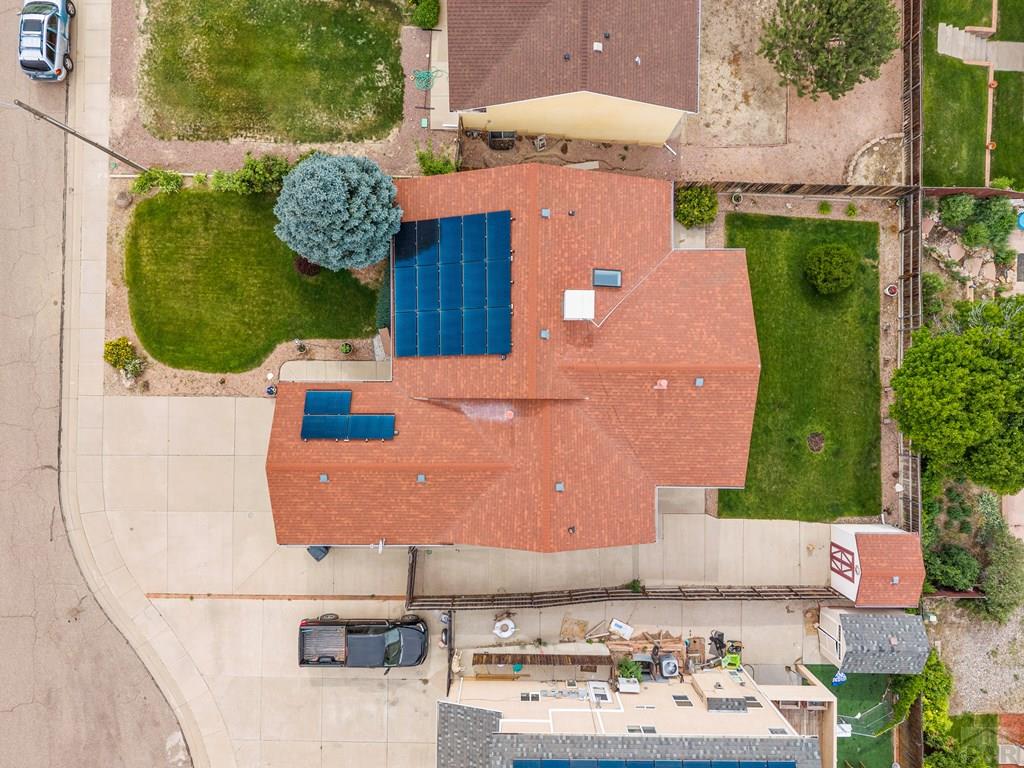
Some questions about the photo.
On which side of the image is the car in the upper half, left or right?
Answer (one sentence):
You can find the car in the upper half on the left side of the picture.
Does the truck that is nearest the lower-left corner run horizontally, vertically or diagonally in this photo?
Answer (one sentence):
In this picture, the truck that is nearest the lower-left corner is oriented horizontally.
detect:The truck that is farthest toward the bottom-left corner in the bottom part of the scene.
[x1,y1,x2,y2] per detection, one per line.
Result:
[297,614,429,675]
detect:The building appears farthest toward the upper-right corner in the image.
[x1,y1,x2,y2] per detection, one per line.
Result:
[446,0,699,155]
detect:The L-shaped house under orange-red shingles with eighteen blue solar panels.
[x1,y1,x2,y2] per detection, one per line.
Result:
[267,164,760,551]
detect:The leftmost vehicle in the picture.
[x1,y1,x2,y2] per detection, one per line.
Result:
[17,0,76,83]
